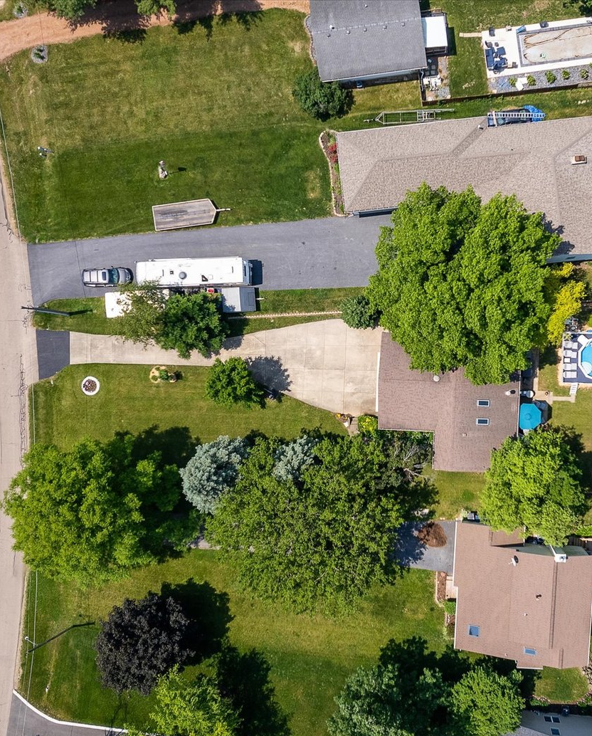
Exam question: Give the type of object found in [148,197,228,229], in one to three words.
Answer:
trailer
